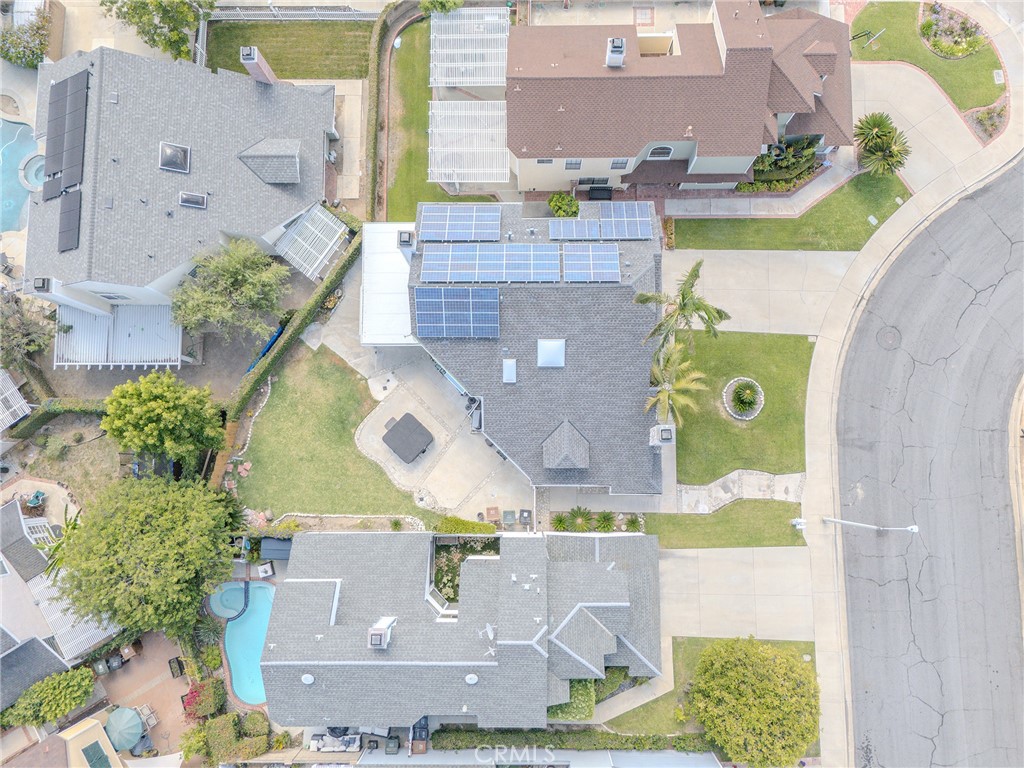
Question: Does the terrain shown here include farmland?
No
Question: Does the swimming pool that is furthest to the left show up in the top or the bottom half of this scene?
top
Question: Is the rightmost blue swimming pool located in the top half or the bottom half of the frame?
bottom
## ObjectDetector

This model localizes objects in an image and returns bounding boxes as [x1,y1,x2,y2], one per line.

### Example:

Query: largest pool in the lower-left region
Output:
[209,576,277,708]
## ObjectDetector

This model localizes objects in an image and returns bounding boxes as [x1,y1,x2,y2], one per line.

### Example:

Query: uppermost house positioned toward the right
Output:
[506,0,856,197]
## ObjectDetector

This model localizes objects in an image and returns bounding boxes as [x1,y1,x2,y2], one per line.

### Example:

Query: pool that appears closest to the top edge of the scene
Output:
[0,118,45,235]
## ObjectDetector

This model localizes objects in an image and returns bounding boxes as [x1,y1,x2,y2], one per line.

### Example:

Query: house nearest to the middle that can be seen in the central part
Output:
[360,202,671,495]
